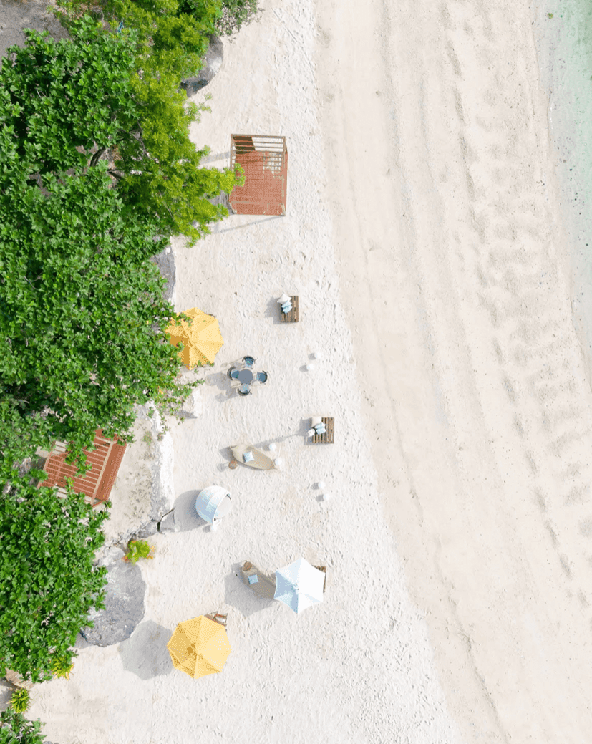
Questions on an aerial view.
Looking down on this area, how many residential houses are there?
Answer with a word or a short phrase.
zero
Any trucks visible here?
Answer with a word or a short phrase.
No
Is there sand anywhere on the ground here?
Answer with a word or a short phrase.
Yes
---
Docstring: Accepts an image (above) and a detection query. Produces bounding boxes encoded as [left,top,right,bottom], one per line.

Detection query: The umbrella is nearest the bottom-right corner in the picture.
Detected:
[274,556,326,614]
